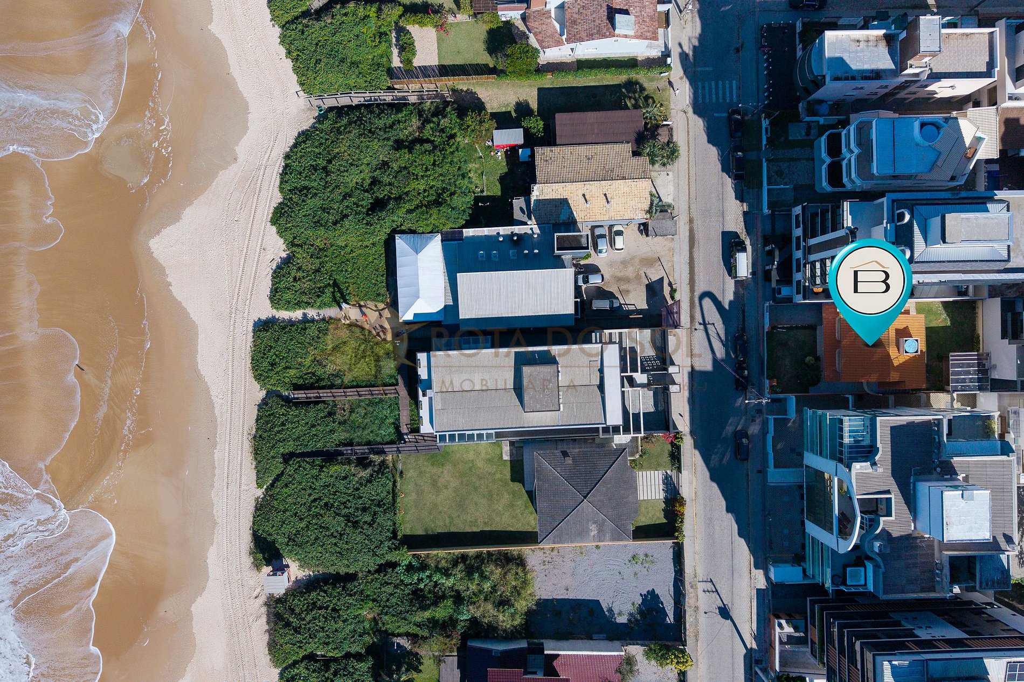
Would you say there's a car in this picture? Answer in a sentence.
Yes, the frame does contain a car.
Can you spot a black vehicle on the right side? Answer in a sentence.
Yes, the scene does show a black vehicle on the right side.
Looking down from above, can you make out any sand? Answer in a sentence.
Yes, there is sand in the image.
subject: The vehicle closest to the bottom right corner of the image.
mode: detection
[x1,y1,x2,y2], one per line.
[733,429,750,461]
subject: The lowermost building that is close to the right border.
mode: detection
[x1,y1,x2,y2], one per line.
[804,593,1024,682]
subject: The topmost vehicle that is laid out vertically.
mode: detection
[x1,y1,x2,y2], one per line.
[728,106,744,142]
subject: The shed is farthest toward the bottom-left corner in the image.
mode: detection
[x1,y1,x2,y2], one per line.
[262,563,292,595]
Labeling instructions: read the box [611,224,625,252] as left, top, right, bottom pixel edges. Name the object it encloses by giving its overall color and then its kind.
white car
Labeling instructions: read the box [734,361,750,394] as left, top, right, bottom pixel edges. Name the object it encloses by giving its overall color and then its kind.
black vehicle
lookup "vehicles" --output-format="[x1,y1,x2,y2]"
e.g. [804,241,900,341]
[592,226,608,258]
[728,106,744,142]
[788,0,825,10]
[575,272,604,286]
[733,429,750,461]
[611,224,625,252]
[733,333,749,362]
[770,284,791,298]
[730,237,749,280]
[590,297,621,311]
[734,361,750,394]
